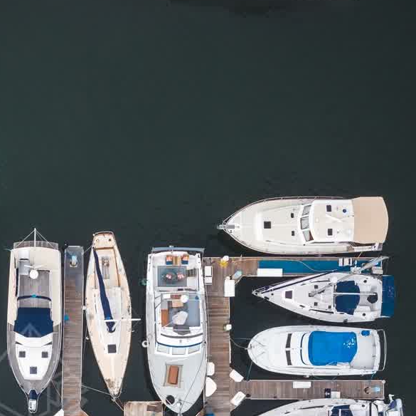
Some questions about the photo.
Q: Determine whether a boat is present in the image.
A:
Yes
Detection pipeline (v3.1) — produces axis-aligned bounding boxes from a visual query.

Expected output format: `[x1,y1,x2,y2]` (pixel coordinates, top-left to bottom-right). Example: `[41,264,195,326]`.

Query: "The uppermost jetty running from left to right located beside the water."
[229,257,384,277]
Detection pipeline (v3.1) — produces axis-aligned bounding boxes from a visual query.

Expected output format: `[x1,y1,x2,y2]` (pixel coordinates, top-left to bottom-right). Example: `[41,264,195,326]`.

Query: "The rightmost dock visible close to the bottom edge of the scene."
[231,379,385,399]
